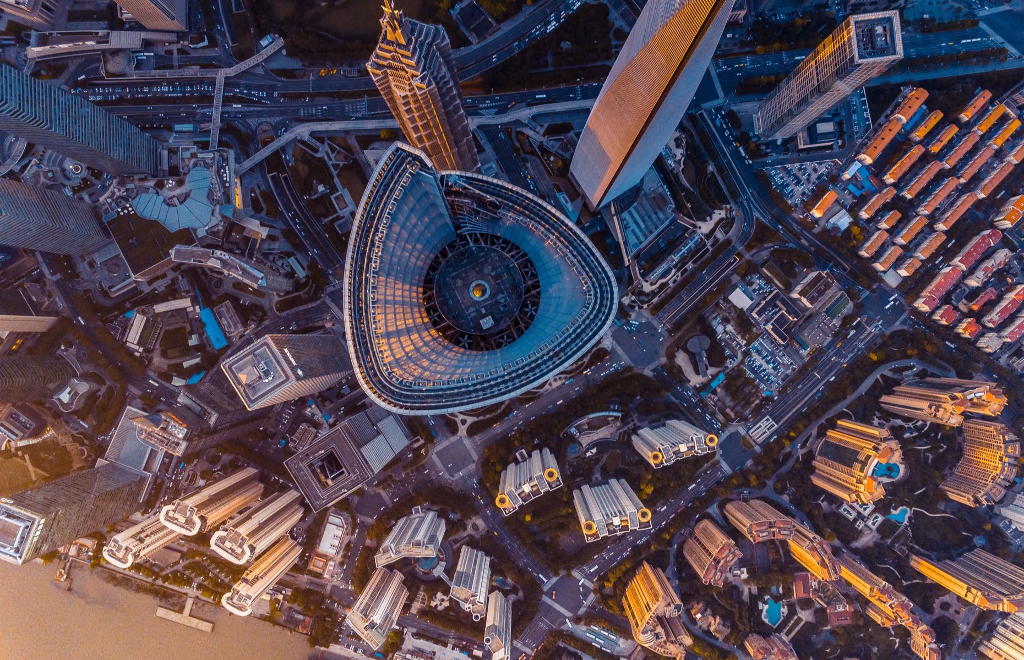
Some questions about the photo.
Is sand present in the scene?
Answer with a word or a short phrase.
No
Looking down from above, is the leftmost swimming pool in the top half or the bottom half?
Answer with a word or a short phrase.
bottom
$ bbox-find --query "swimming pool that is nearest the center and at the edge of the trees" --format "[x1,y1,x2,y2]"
[566,441,582,457]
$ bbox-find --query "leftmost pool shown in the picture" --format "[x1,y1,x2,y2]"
[416,555,440,575]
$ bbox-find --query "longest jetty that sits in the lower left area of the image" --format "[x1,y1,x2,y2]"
[156,598,214,632]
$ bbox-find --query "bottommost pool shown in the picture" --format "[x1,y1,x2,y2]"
[812,631,838,646]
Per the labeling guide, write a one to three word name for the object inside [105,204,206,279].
building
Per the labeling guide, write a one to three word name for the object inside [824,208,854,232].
shed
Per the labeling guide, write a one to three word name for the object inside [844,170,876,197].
shed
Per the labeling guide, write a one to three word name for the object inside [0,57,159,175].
building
